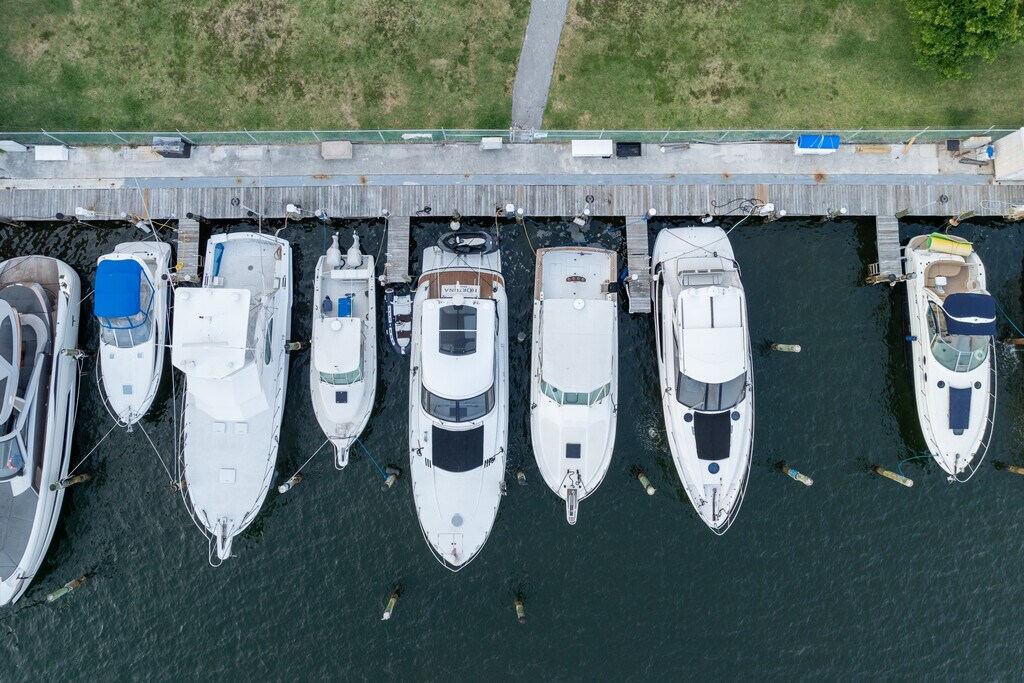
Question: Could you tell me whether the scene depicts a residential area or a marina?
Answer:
marina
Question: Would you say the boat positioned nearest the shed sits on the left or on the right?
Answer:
right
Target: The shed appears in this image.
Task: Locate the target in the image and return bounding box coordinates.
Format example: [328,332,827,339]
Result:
[995,131,1024,180]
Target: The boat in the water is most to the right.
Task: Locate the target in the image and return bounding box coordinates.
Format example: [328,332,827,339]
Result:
[900,234,1000,485]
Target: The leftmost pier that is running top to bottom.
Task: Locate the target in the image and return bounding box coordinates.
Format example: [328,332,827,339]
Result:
[176,219,202,283]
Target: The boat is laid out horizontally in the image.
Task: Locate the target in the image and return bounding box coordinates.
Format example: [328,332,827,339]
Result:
[437,229,501,257]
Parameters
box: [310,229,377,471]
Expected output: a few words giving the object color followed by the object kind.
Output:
white boat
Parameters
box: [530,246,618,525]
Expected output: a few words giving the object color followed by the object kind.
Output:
white boat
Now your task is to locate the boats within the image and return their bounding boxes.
[437,229,501,257]
[409,246,509,574]
[0,257,83,609]
[900,234,1000,485]
[530,246,618,525]
[90,243,173,433]
[128,232,295,565]
[651,227,754,534]
[310,229,377,471]
[384,275,420,355]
